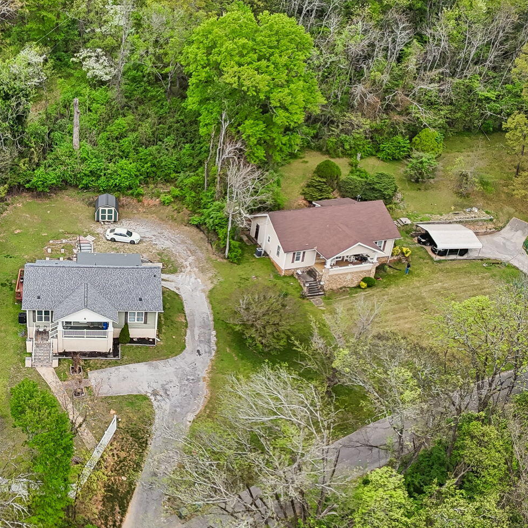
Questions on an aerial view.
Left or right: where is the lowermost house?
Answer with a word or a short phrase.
left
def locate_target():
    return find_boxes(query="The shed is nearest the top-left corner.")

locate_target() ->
[94,193,119,222]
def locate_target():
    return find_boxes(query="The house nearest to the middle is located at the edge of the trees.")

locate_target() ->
[244,195,403,308]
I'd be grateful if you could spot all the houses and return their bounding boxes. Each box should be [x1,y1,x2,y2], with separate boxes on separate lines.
[12,253,164,367]
[244,195,403,308]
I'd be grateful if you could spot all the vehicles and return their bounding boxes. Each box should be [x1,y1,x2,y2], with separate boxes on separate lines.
[421,242,465,258]
[403,232,434,247]
[103,226,140,244]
